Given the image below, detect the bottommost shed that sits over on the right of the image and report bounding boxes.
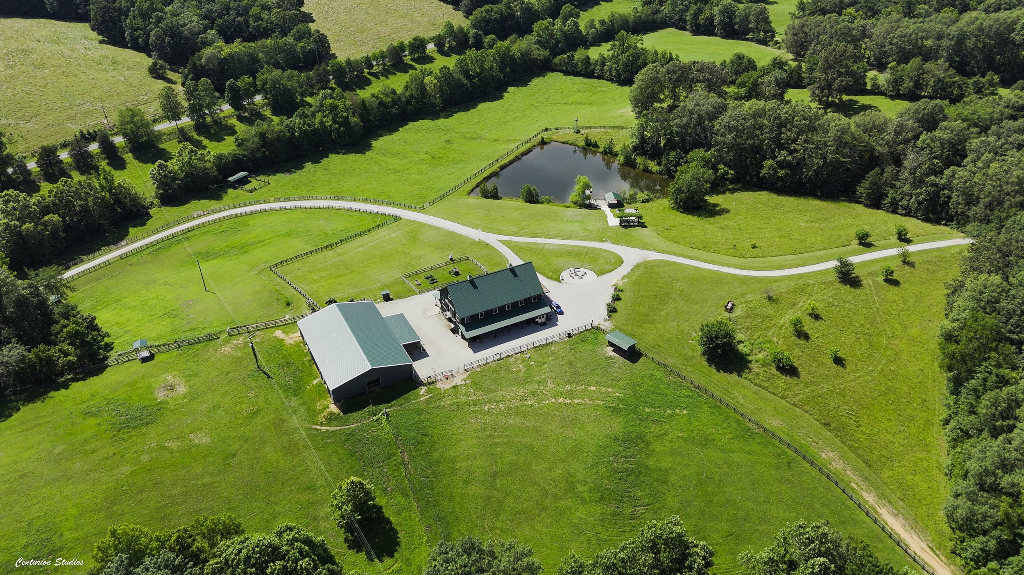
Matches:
[606,331,639,357]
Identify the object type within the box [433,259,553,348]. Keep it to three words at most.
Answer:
house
